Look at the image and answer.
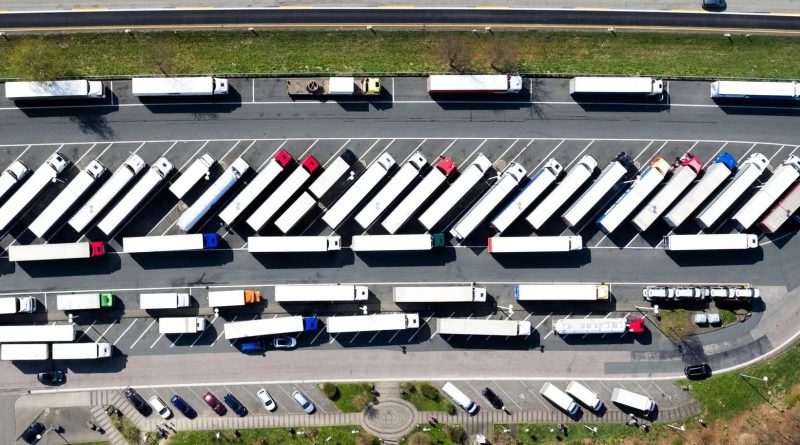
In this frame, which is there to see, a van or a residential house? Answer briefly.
van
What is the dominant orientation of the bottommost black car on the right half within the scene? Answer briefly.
at an angle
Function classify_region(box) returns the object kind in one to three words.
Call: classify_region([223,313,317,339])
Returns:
truck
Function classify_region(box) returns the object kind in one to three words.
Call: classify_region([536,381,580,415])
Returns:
van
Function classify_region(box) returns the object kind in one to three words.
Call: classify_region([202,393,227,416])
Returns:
car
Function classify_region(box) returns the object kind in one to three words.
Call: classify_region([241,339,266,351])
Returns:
vehicle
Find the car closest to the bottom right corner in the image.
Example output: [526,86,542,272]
[684,365,712,377]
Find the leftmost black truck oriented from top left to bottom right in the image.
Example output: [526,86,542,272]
[124,387,153,418]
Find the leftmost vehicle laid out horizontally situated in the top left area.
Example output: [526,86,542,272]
[5,80,104,101]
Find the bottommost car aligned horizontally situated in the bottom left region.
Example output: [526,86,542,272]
[39,372,66,384]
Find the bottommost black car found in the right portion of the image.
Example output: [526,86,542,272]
[482,387,505,410]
